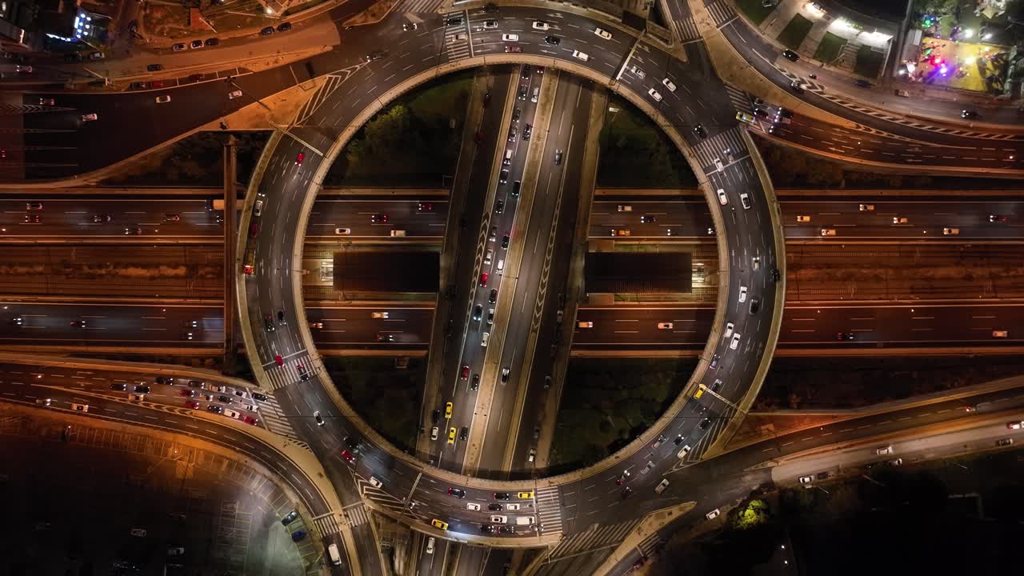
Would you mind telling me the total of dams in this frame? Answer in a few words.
0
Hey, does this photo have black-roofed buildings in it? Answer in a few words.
Yes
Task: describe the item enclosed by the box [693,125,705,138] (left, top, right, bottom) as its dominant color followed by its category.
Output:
black vehicle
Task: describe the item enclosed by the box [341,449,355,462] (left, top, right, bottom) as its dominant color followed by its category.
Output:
red vehicle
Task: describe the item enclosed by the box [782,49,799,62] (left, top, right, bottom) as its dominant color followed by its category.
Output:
black vehicle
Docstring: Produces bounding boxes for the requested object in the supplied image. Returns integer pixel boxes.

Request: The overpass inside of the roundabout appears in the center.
[412,0,614,576]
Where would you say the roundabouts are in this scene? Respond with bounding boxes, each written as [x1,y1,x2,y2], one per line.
[236,0,786,546]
